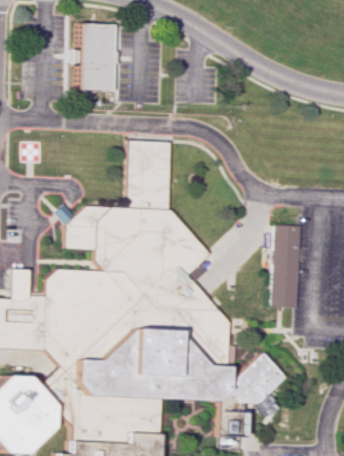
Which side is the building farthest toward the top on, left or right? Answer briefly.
left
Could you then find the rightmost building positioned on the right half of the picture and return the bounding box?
[270,226,301,308]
